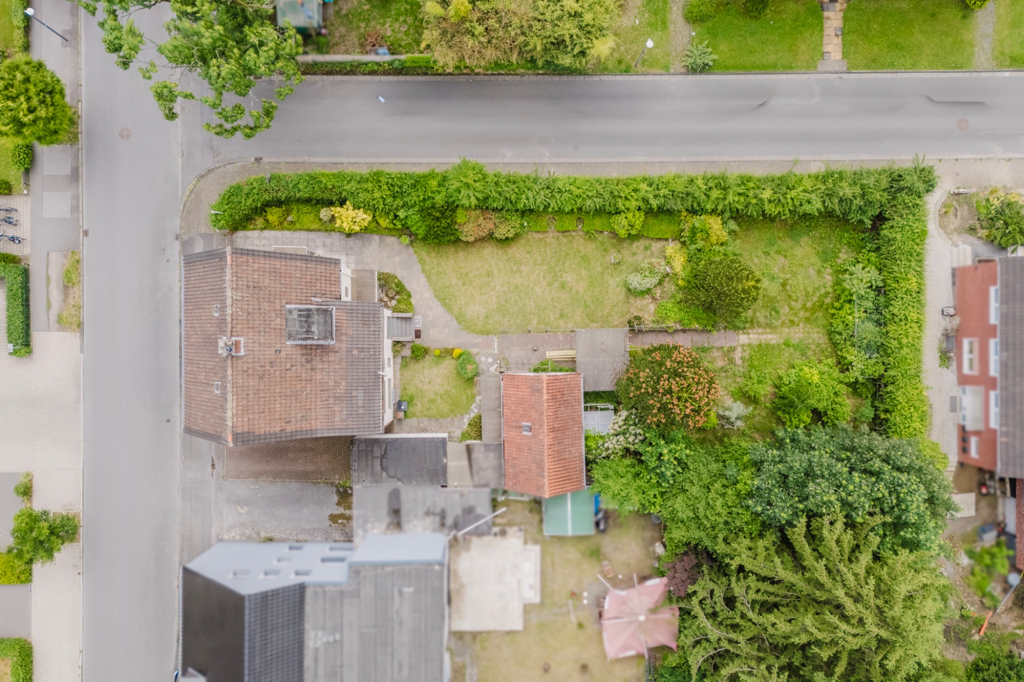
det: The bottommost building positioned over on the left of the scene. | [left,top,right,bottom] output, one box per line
[173,535,456,682]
